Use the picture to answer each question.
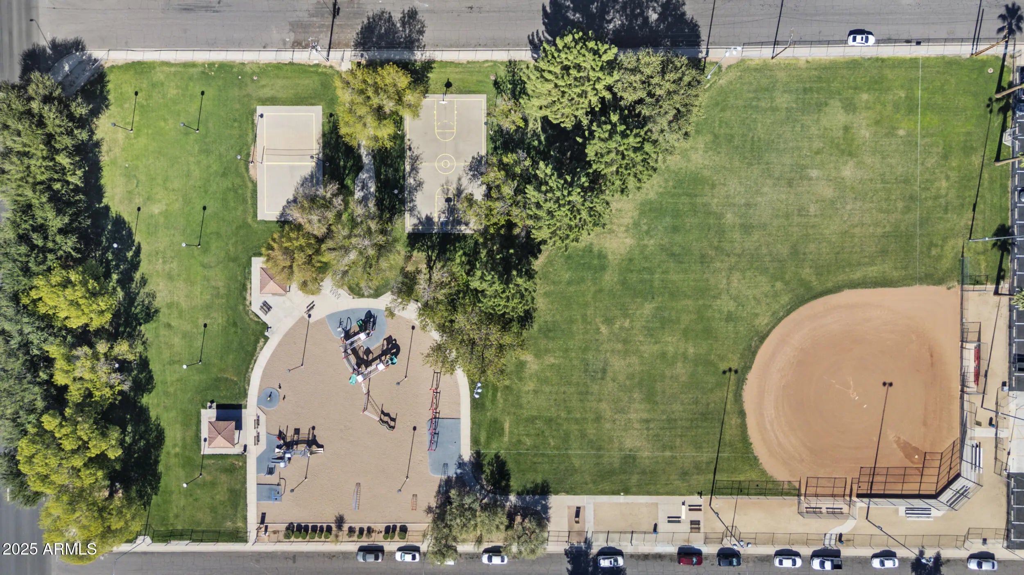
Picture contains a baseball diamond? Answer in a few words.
Yes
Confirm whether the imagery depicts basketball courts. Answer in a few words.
Yes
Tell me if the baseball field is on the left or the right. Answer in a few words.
right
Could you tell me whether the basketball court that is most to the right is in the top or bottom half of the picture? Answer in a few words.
top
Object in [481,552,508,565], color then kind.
white vehicle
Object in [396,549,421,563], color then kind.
white car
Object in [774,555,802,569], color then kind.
white car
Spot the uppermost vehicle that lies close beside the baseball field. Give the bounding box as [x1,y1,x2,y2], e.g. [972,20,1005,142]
[846,32,875,46]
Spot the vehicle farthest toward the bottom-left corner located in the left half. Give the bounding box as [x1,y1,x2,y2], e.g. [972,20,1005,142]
[356,549,385,562]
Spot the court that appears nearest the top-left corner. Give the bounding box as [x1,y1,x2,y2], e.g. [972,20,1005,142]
[257,106,323,220]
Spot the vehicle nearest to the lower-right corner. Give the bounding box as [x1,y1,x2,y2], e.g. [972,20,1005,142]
[966,558,998,571]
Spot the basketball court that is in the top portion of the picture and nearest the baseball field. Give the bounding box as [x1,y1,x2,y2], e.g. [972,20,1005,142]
[405,94,487,233]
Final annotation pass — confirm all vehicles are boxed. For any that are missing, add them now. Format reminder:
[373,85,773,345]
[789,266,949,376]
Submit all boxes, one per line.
[1016,104,1024,116]
[1018,190,1024,201]
[810,557,844,572]
[774,555,802,569]
[1011,359,1024,371]
[597,554,624,569]
[846,32,875,46]
[356,549,385,562]
[677,553,703,567]
[396,549,421,563]
[966,558,998,571]
[870,556,899,570]
[716,553,743,567]
[1017,89,1024,101]
[481,552,508,565]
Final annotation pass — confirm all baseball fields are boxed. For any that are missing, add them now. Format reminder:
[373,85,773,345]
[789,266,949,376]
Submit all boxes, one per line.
[479,56,1008,499]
